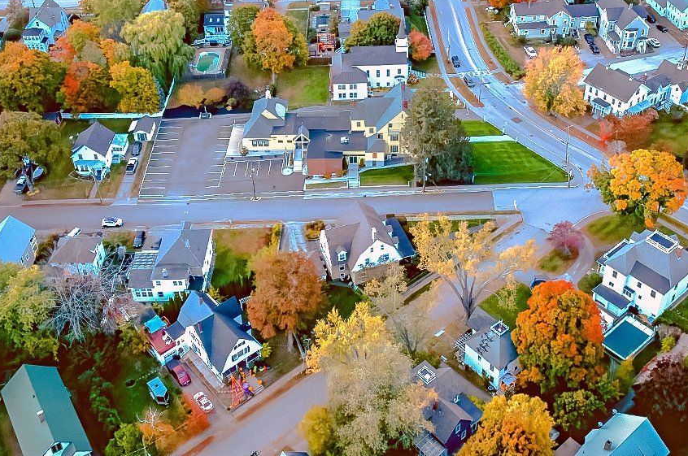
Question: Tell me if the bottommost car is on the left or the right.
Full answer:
You can find the bottommost car on the left side of the picture.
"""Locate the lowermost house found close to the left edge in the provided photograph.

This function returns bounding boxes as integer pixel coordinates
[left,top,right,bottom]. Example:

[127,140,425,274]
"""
[1,364,91,456]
